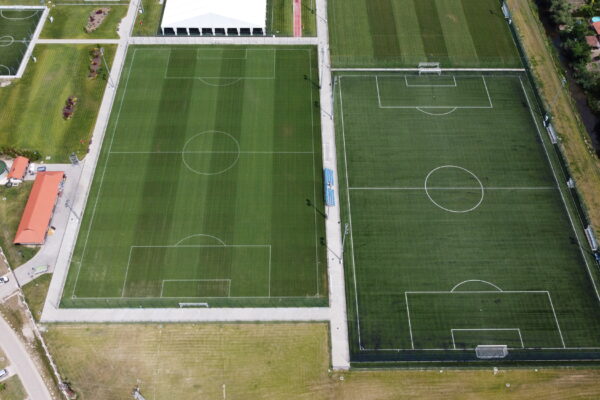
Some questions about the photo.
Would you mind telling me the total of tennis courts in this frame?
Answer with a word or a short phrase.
zero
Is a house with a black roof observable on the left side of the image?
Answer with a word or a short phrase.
No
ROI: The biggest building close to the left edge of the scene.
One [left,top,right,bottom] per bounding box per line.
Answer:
[12,171,66,248]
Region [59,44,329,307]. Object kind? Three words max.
sports field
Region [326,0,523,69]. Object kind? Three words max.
sports field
